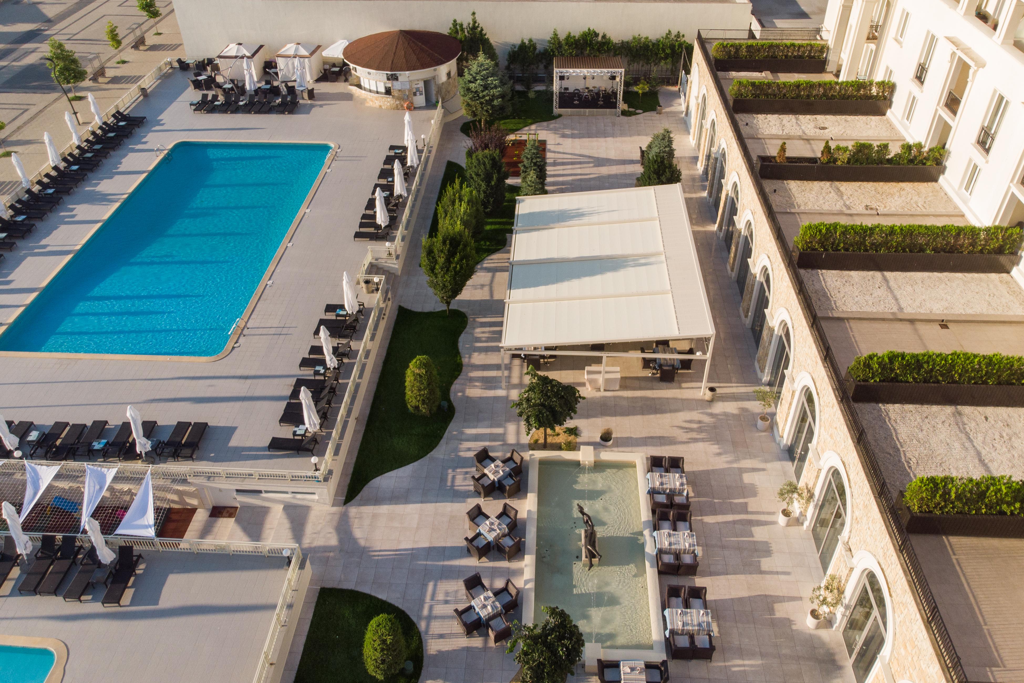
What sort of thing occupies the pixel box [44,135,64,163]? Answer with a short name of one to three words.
umbrella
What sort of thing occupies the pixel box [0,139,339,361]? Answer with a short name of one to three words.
swimming pool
